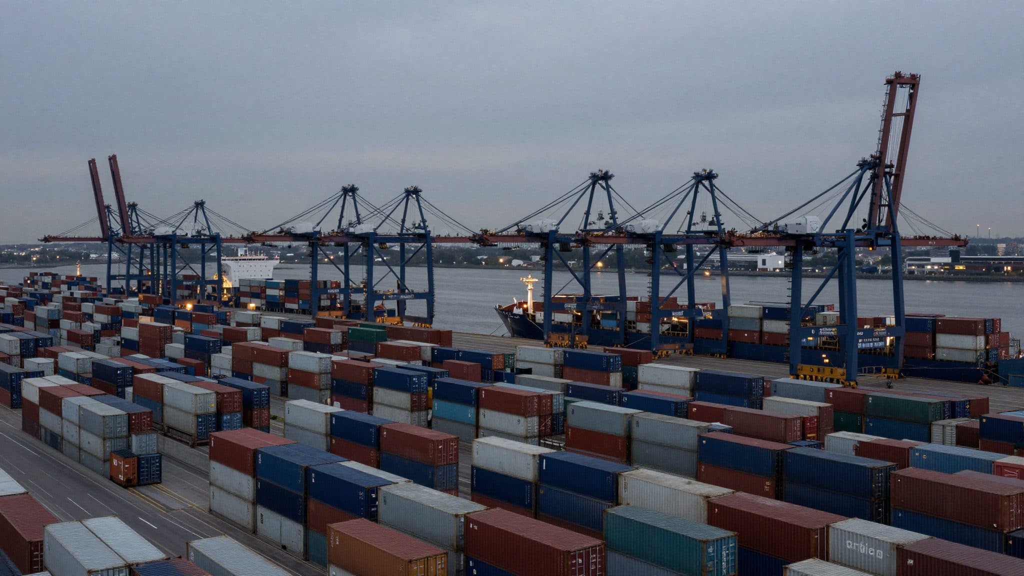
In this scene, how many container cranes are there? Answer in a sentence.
The count of container cranes comes to 8.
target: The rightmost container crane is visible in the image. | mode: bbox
[713,74,980,385]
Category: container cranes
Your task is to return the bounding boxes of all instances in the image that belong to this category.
[569,172,787,367]
[713,74,980,385]
[90,154,174,303]
[36,160,149,296]
[123,197,255,309]
[466,170,649,352]
[337,183,492,330]
[243,182,437,324]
